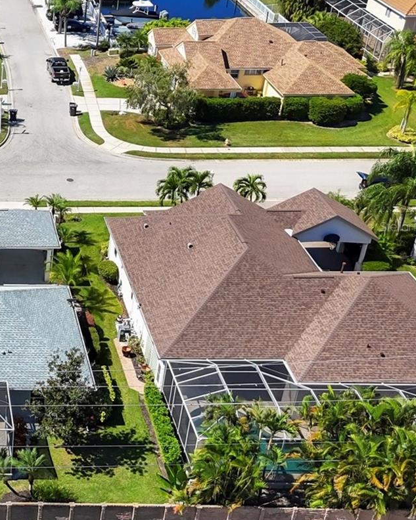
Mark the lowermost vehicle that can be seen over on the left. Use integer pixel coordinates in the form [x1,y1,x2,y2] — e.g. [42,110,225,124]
[51,62,74,84]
